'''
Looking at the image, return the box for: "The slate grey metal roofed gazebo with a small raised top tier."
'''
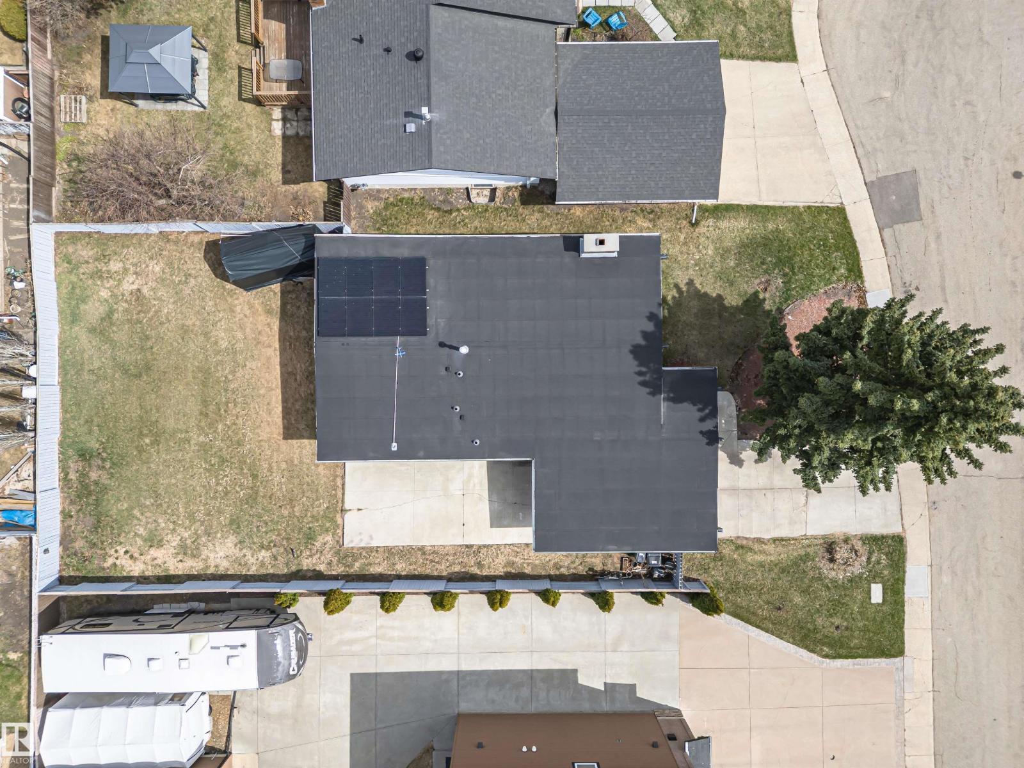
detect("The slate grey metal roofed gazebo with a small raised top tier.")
[108,23,208,110]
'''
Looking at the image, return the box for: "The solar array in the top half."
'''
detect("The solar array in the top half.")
[319,258,431,336]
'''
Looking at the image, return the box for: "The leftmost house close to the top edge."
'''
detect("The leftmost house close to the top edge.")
[311,0,578,189]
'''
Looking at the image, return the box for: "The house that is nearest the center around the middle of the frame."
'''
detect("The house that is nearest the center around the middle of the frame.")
[316,232,721,553]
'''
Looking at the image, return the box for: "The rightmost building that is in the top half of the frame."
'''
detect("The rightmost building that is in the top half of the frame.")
[556,39,725,223]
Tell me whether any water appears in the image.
No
